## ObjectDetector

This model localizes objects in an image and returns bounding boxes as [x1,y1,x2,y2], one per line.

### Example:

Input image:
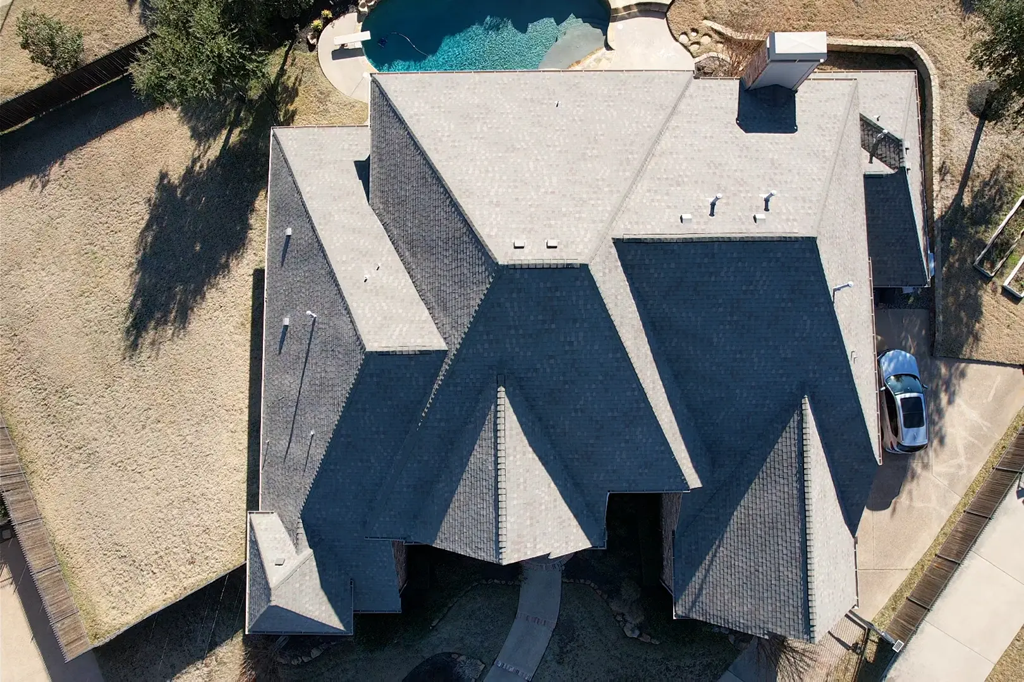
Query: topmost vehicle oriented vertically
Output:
[879,348,936,455]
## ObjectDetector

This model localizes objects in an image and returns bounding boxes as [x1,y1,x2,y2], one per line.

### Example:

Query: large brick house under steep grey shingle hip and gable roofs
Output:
[240,30,932,643]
